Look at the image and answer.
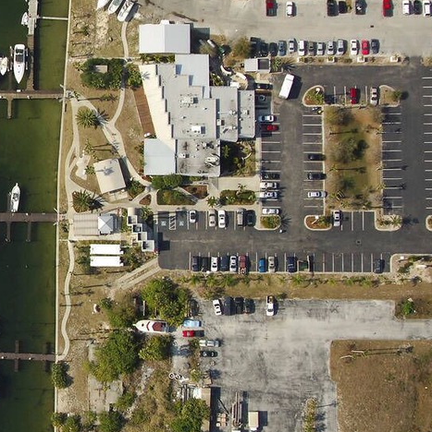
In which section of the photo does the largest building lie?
top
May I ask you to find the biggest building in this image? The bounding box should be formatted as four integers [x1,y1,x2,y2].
[132,54,255,178]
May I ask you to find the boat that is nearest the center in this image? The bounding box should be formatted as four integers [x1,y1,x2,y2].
[133,320,170,334]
